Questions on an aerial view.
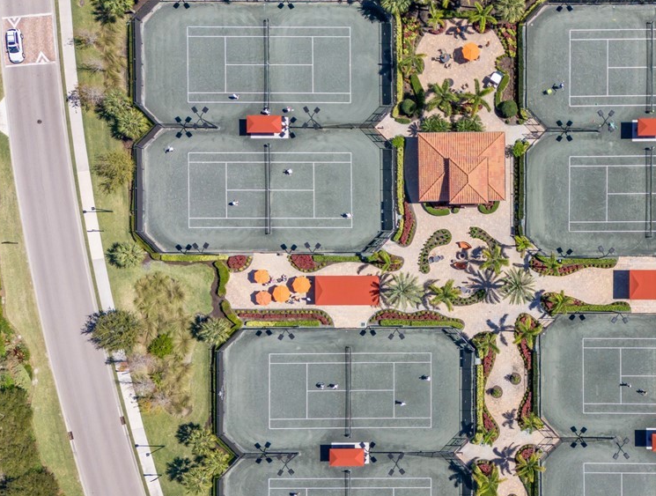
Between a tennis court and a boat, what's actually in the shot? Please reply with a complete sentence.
The image shows a tennis court.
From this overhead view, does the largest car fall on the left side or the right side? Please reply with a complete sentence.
You can find the largest car on the left side of the picture.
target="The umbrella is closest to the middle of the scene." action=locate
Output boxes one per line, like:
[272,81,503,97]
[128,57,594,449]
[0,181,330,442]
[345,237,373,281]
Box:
[293,275,311,294]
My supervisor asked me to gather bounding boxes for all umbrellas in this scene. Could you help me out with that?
[463,45,479,61]
[273,285,291,303]
[255,290,273,306]
[293,275,311,294]
[254,268,271,284]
